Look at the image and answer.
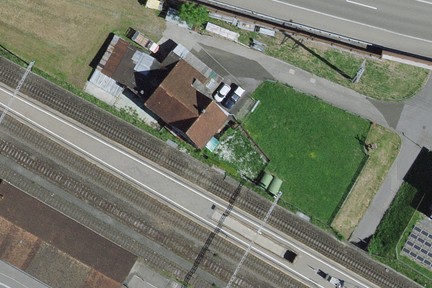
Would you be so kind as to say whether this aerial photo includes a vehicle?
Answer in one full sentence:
Yes, the image includes a vehicle.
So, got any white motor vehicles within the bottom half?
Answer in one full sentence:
No, there is no white motor vehicle within the bottom half.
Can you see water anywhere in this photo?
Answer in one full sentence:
No, water can't be seen anywhere here.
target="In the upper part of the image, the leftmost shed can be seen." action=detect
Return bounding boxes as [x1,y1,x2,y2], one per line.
[90,34,161,96]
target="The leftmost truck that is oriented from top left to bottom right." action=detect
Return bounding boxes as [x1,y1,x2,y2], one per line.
[132,29,161,52]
